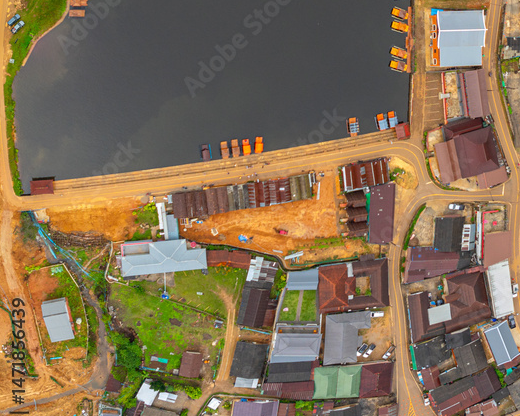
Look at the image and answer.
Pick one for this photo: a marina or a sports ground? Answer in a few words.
marina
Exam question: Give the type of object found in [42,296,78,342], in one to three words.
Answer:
house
